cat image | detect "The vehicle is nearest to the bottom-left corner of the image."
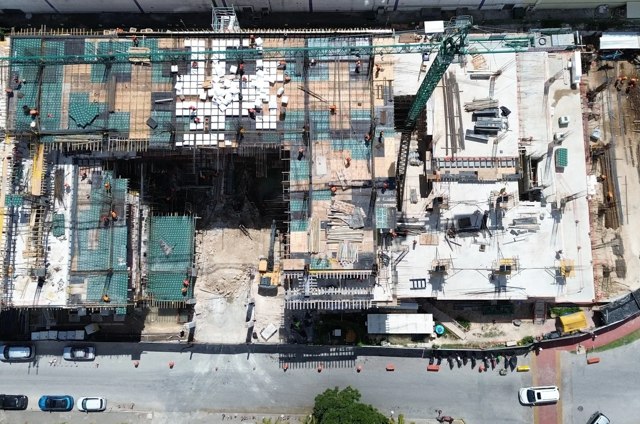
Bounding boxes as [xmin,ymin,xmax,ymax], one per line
[0,393,29,411]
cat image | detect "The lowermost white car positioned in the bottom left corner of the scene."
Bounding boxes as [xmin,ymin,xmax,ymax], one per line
[78,396,107,412]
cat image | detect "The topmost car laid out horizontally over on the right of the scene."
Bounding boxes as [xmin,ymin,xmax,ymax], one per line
[519,386,558,405]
